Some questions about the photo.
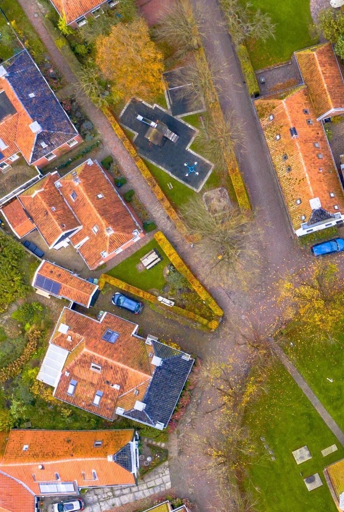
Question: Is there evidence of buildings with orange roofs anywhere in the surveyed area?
Yes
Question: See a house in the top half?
Yes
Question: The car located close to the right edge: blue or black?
blue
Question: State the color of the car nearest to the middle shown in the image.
blue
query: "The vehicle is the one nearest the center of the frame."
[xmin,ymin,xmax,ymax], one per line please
[111,292,145,315]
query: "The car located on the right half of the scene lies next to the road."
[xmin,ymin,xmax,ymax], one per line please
[311,237,344,257]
